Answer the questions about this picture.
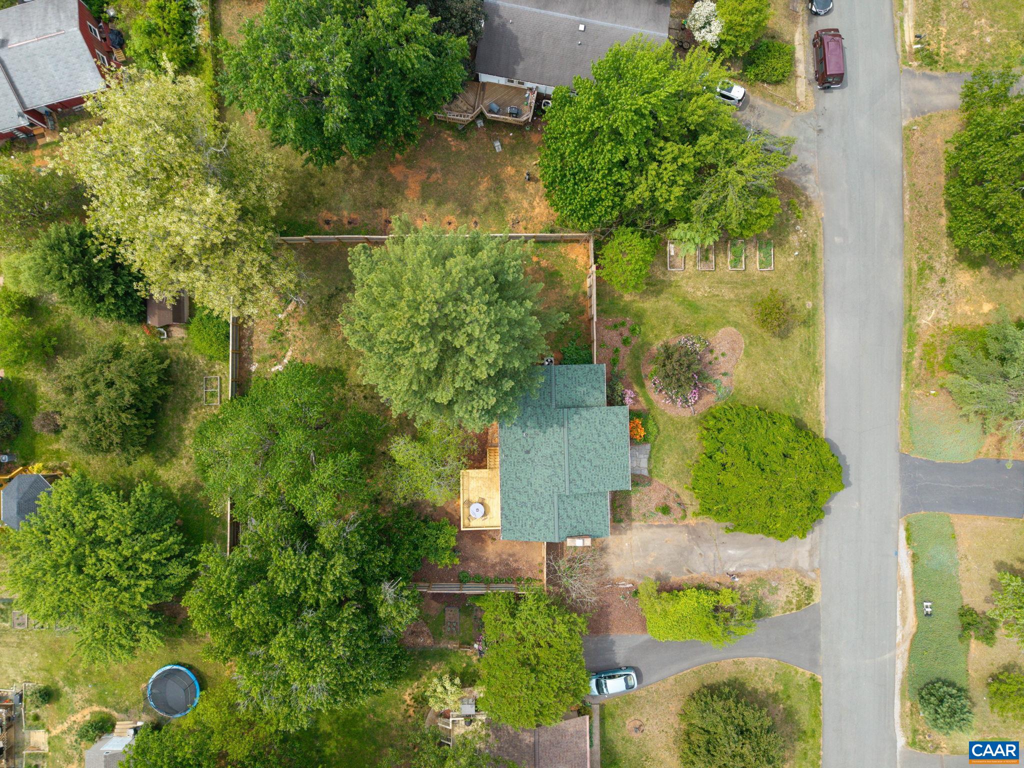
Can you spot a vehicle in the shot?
Yes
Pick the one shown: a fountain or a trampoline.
trampoline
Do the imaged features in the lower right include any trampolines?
No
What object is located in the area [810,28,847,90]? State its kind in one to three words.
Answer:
car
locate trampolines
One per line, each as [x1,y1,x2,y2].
[142,662,203,718]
